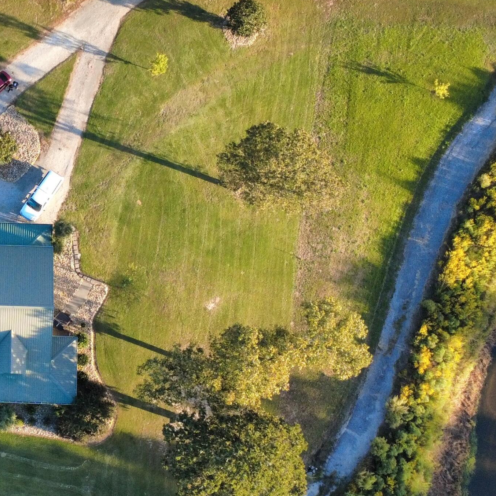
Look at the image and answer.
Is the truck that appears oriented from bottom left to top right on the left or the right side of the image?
left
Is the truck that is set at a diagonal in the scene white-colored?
Yes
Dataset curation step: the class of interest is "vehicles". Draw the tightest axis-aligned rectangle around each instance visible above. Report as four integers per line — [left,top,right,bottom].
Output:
[19,167,65,222]
[0,69,13,93]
